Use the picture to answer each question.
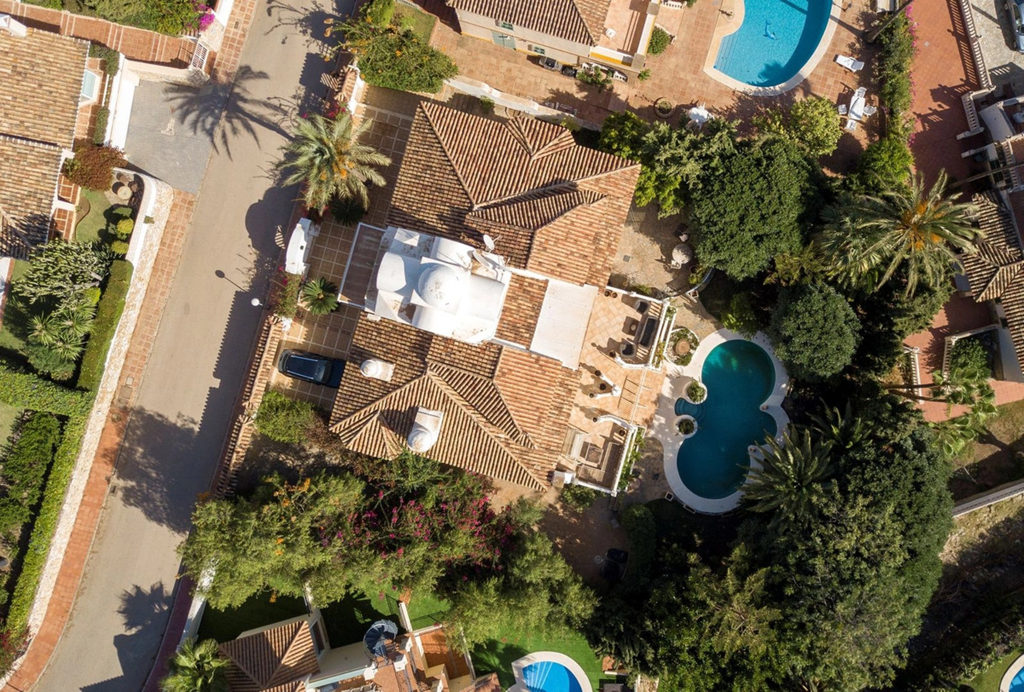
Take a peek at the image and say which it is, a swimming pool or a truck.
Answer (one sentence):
Visible in the photo is a swimming pool.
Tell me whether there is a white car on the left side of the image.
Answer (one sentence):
No, on the left side of the image there is no white car.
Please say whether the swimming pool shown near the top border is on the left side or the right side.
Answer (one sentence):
You can find the swimming pool shown near the top border on the right side of the picture.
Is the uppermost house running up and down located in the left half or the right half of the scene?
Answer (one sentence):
The uppermost house running up and down sits on the left side.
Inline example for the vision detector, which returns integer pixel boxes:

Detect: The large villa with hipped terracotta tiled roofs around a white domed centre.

[328,101,642,492]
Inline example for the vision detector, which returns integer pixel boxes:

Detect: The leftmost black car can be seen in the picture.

[278,350,350,390]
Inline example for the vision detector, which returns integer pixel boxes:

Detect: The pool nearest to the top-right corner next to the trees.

[714,0,836,85]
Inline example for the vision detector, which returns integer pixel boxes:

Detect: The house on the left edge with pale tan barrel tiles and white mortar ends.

[0,12,112,259]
